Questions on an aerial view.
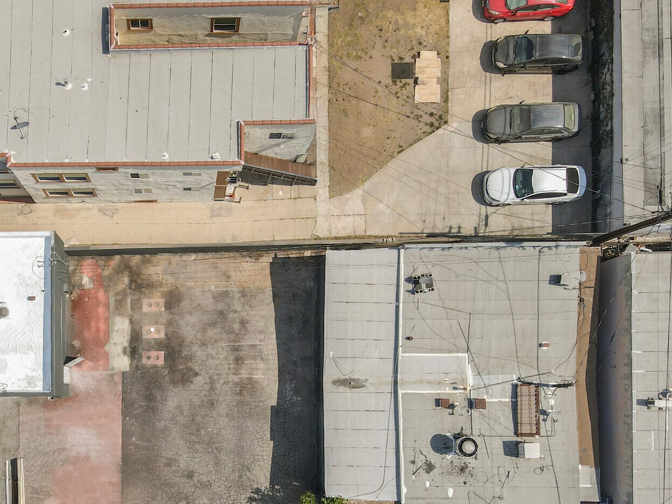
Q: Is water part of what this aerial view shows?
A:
No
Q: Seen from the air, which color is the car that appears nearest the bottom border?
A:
white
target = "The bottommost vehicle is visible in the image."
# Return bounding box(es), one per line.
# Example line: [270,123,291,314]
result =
[485,160,587,206]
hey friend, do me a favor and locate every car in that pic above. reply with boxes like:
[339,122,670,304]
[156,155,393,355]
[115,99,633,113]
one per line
[484,0,576,24]
[485,160,587,206]
[495,28,585,76]
[484,98,582,144]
